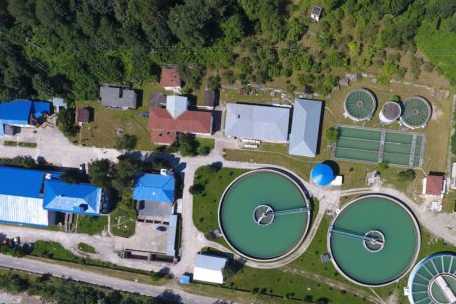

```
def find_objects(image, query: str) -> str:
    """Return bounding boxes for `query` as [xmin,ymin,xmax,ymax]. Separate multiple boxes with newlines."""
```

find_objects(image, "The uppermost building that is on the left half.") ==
[162,69,181,89]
